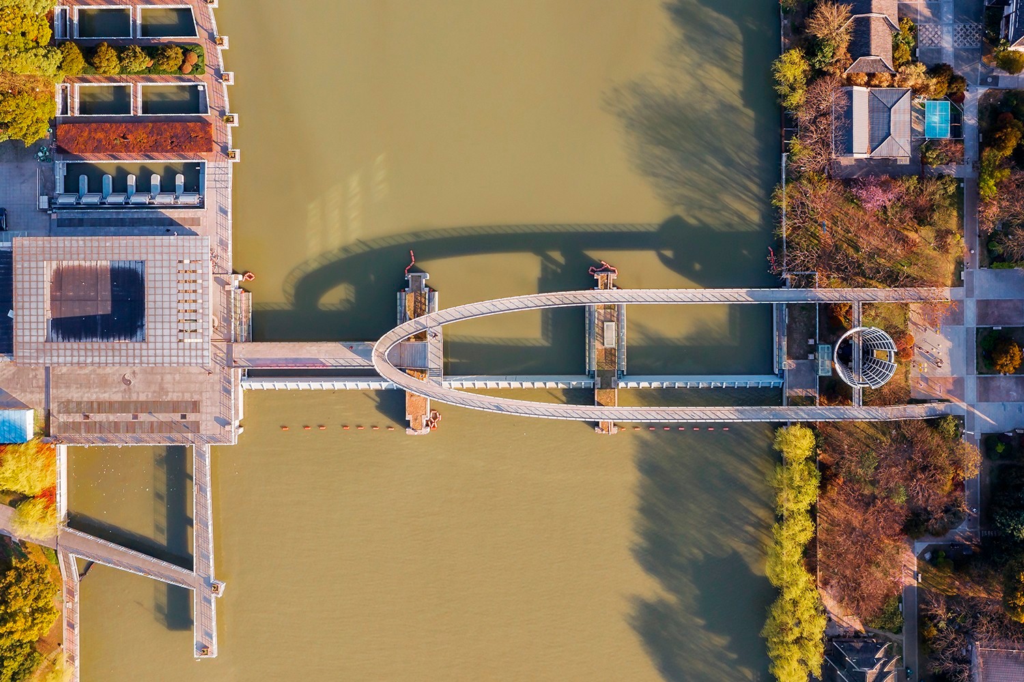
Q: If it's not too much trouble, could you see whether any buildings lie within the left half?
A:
Yes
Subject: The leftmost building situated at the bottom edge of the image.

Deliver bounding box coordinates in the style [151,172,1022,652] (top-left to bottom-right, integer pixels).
[822,643,903,682]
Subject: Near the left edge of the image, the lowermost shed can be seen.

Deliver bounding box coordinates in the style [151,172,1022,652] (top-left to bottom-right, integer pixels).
[0,409,34,443]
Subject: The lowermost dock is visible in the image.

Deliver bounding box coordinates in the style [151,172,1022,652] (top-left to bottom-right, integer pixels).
[192,445,222,659]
